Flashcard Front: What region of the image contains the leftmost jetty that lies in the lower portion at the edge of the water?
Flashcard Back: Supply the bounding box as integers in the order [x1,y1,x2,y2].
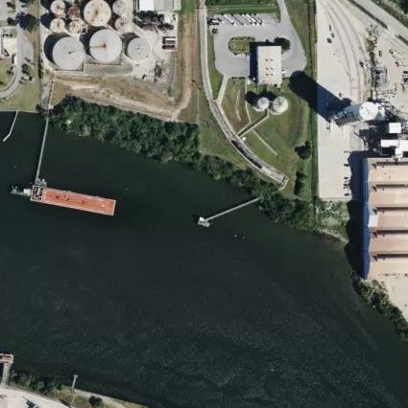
[0,354,13,389]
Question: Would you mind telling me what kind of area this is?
industrial area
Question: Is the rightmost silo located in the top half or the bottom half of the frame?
top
